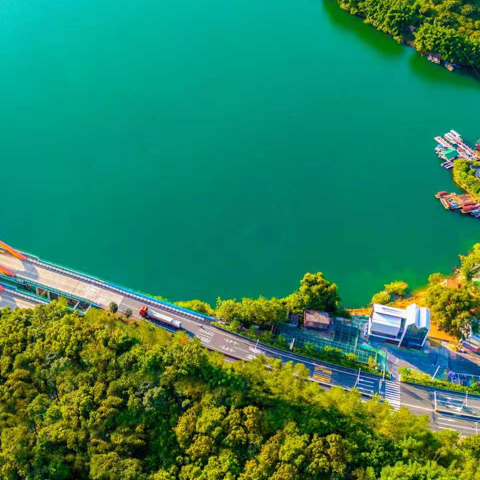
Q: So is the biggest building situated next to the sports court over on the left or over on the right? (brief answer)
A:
right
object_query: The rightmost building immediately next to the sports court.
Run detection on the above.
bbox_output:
[358,300,434,353]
